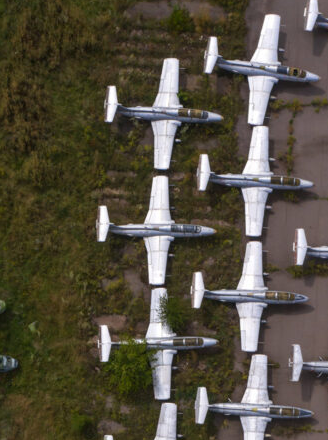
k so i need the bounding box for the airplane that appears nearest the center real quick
[97,175,216,285]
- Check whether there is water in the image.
No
